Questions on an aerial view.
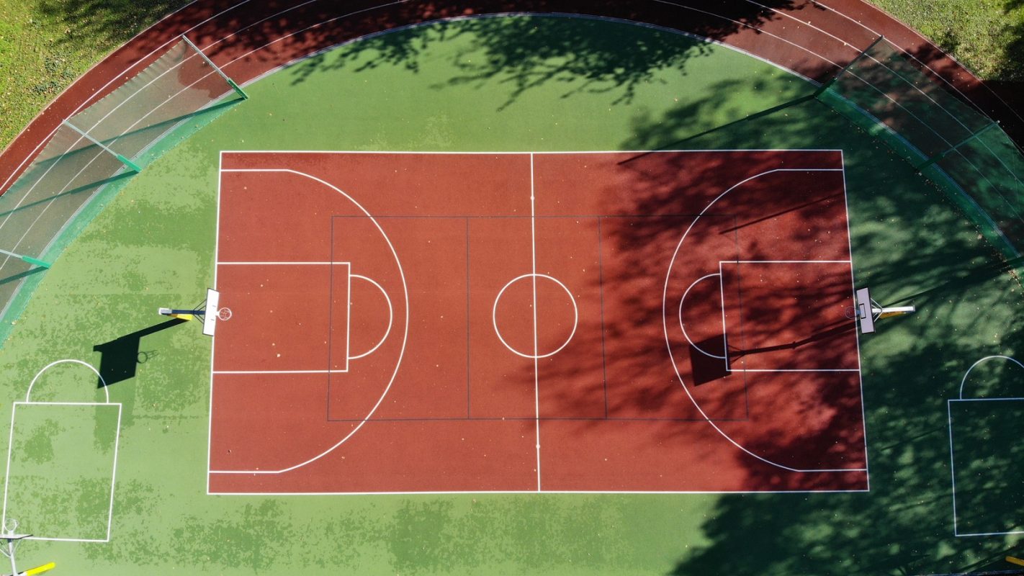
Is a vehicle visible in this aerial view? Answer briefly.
No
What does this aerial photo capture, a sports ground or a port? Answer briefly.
sports ground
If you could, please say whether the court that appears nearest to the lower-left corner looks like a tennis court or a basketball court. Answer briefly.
basketball court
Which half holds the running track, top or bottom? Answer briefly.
top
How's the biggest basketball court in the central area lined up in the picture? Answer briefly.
from side to side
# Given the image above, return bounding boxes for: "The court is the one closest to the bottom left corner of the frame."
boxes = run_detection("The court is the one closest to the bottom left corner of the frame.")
[1,361,121,542]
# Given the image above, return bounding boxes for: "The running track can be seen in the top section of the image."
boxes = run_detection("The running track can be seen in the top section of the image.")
[0,0,1024,321]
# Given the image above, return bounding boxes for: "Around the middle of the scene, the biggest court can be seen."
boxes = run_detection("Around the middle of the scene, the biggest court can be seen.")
[207,150,870,495]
